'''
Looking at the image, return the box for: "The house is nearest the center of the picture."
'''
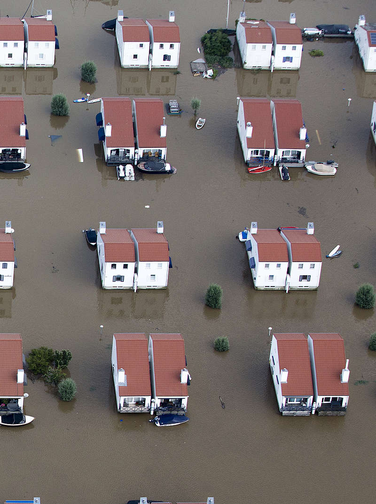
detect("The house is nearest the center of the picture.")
[132,222,172,289]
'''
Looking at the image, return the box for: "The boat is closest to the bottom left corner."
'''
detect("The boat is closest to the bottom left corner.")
[0,411,34,425]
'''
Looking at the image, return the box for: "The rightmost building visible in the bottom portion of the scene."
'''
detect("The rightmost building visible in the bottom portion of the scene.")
[308,334,351,415]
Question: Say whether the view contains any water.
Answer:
Yes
